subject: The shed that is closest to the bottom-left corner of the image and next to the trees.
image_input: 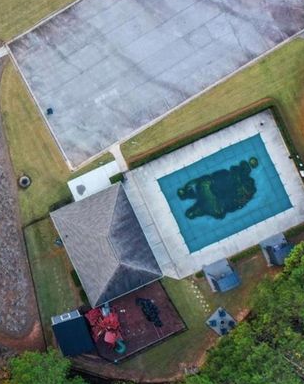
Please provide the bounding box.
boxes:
[51,310,94,359]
